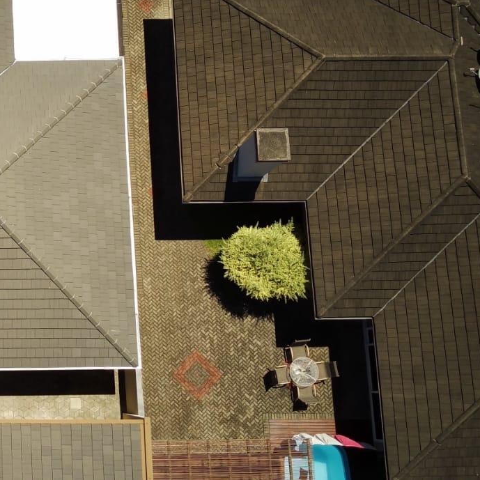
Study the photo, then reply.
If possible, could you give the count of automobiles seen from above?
0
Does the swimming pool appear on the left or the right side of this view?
right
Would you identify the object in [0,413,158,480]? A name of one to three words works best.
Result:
shed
